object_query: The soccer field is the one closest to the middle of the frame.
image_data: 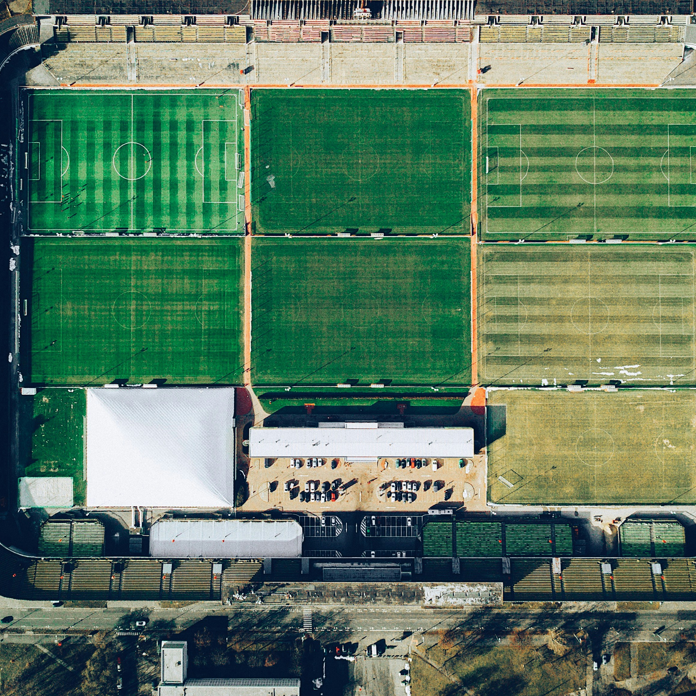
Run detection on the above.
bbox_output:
[252,236,471,387]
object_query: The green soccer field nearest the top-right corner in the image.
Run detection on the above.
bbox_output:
[477,89,696,242]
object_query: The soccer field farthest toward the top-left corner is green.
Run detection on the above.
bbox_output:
[21,88,245,235]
